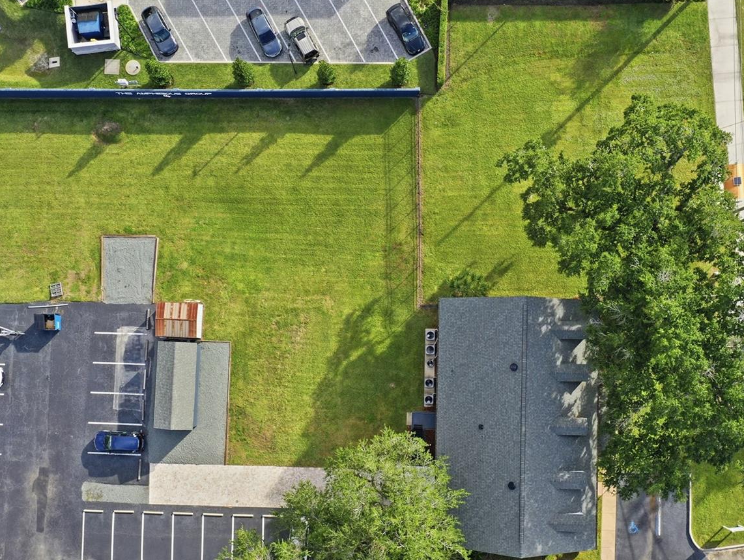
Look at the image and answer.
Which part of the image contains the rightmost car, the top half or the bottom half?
top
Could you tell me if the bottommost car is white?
No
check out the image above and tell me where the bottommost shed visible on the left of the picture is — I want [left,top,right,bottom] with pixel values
[153,342,204,436]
